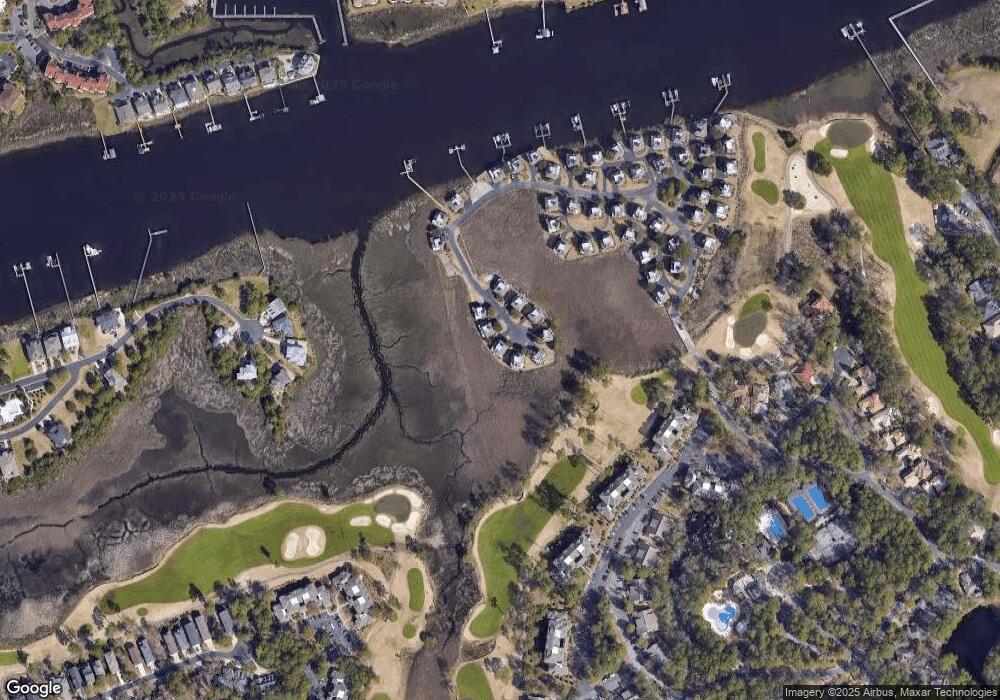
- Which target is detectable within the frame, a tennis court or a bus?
tennis court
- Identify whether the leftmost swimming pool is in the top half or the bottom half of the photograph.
bottom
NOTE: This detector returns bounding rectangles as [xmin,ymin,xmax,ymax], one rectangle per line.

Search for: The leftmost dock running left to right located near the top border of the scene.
[211,0,325,45]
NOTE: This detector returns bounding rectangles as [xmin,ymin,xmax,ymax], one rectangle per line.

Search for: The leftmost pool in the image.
[703,601,739,635]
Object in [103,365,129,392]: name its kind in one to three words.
house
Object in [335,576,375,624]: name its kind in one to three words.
building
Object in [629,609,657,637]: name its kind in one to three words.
house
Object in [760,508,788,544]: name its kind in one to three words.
swimming pool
